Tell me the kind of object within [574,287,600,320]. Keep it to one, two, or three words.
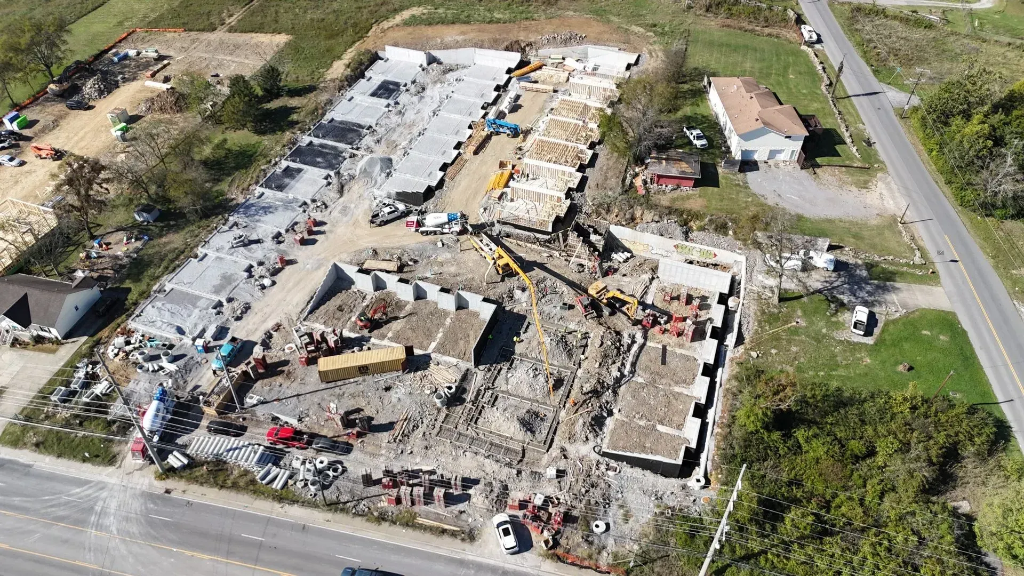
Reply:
work vehicle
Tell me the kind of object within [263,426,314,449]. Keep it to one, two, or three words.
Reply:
truck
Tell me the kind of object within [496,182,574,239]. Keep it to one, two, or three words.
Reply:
house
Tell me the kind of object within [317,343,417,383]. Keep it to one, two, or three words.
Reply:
shipping container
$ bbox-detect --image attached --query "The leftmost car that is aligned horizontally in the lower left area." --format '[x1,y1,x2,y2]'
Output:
[204,414,245,434]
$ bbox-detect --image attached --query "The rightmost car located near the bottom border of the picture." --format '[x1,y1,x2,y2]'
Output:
[493,511,521,553]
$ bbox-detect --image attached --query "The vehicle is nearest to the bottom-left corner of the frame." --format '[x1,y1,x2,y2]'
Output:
[124,379,171,455]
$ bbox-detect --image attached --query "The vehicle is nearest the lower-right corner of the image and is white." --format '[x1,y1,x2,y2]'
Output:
[849,303,873,333]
